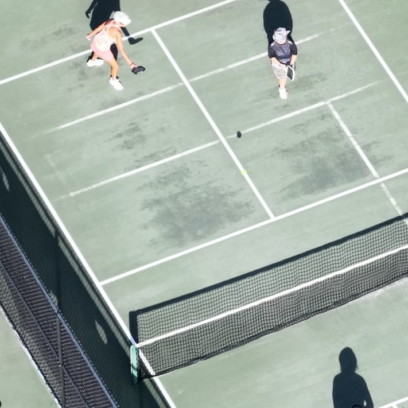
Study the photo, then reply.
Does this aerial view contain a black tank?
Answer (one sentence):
No, I find no black tank anywhere in the image.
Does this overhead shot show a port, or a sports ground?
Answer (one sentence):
It's a sports ground.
